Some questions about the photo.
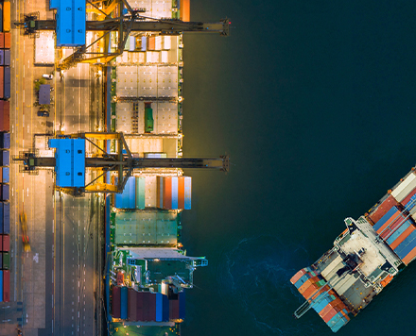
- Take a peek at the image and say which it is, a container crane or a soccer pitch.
container crane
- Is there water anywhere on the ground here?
Yes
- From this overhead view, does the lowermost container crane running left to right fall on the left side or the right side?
left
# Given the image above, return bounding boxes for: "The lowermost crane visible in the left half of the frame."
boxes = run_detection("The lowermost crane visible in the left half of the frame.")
[14,125,230,202]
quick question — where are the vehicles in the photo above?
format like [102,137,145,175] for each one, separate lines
[42,74,53,80]
[20,214,32,253]
[38,112,49,117]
